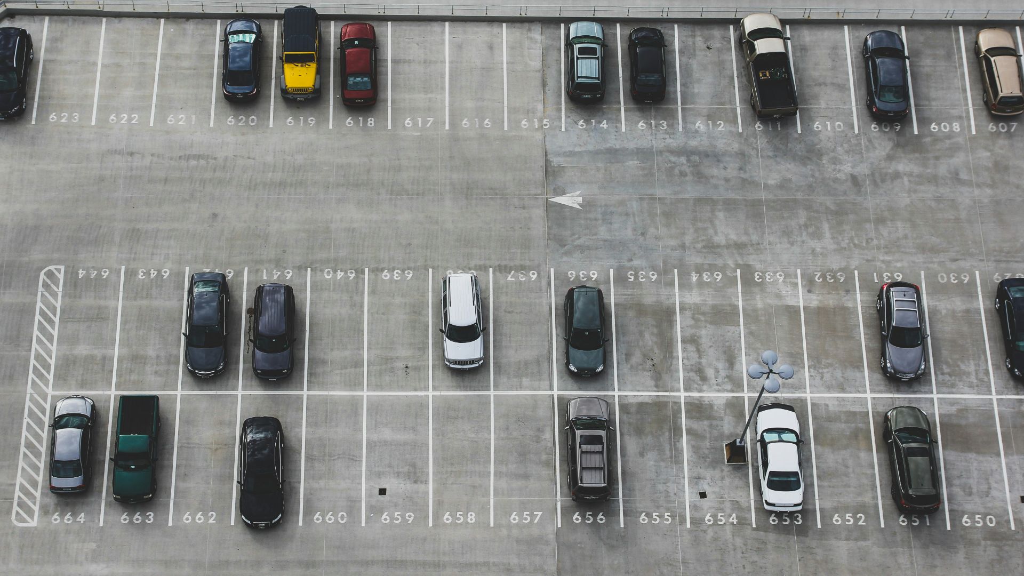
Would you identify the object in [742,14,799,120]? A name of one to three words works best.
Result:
truck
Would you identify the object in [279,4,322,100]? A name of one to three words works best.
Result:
car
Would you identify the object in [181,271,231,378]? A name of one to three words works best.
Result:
car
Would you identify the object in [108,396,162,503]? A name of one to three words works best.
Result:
truck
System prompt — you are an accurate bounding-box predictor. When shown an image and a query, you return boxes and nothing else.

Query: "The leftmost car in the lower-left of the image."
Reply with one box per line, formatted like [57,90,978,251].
[46,396,97,492]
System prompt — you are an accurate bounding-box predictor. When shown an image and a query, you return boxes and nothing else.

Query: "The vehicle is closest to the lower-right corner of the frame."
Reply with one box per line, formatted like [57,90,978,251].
[884,406,943,511]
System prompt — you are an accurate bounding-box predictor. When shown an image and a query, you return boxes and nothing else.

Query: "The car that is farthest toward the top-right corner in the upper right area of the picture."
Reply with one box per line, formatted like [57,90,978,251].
[976,29,1024,114]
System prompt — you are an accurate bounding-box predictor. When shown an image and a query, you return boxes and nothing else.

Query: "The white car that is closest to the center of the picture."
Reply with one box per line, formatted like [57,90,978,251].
[437,273,489,370]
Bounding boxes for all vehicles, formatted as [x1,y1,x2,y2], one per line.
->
[181,271,231,378]
[235,415,288,530]
[564,399,617,500]
[742,14,799,120]
[108,396,162,503]
[626,28,670,100]
[997,280,1024,381]
[878,278,931,381]
[335,24,379,104]
[863,31,912,116]
[437,273,489,370]
[561,283,611,378]
[218,20,264,100]
[755,404,805,511]
[884,406,943,511]
[46,396,97,492]
[976,29,1024,114]
[0,29,35,119]
[279,4,322,100]
[247,282,299,381]
[563,22,611,101]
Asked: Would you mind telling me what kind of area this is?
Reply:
parking lot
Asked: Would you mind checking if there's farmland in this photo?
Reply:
No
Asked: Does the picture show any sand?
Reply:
No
